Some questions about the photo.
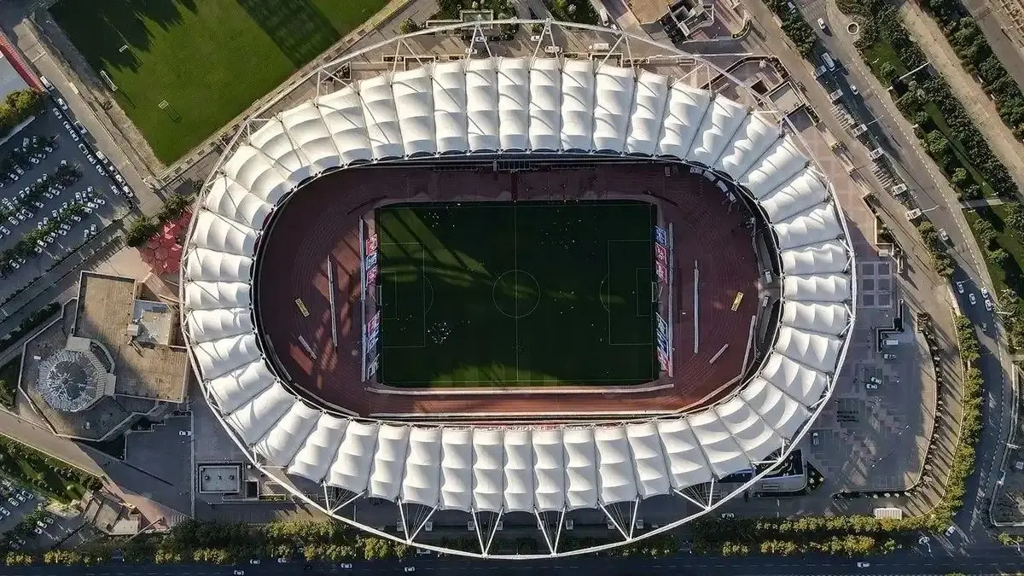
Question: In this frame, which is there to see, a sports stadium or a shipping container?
sports stadium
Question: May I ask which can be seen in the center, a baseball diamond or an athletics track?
athletics track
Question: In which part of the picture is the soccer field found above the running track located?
top left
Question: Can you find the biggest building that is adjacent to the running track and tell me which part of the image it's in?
left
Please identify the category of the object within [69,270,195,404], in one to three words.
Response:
building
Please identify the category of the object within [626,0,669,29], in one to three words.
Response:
building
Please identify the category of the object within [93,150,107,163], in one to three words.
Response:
vehicle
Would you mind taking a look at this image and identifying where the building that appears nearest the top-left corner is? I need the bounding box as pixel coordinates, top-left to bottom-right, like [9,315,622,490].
[0,32,48,108]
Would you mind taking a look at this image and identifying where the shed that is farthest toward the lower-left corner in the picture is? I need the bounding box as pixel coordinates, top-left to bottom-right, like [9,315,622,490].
[46,500,86,518]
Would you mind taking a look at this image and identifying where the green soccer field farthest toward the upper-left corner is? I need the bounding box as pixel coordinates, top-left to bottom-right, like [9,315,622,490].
[49,0,388,164]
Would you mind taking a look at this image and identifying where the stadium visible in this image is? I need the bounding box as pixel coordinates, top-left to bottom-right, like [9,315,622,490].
[178,18,856,558]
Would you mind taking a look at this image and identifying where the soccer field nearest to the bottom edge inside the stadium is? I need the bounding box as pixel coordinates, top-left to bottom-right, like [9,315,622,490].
[377,201,658,387]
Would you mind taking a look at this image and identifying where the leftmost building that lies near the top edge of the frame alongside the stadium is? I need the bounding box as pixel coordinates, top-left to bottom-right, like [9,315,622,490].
[462,10,492,30]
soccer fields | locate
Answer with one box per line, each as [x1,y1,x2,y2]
[377,201,658,387]
[49,0,388,164]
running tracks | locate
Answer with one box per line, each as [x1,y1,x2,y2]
[257,158,764,421]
